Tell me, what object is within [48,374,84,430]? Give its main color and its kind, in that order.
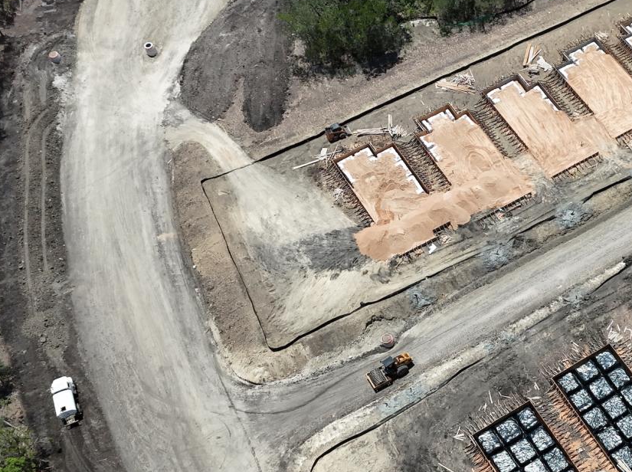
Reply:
white truck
